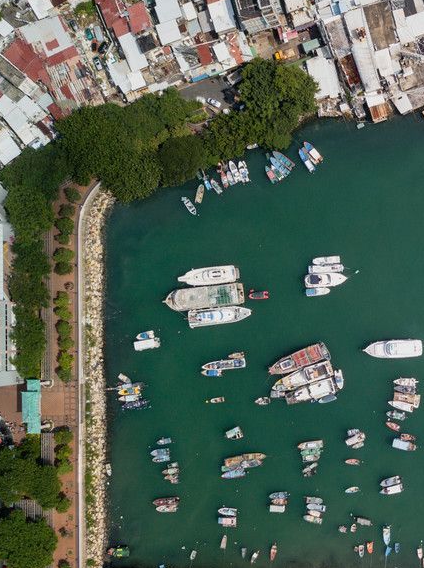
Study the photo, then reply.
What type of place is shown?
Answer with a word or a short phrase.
residential area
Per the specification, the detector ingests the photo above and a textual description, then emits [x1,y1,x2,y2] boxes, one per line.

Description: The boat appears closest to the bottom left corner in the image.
[109,546,131,559]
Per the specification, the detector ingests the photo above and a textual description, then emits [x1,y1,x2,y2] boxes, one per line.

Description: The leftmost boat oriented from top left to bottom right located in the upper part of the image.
[182,196,197,214]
